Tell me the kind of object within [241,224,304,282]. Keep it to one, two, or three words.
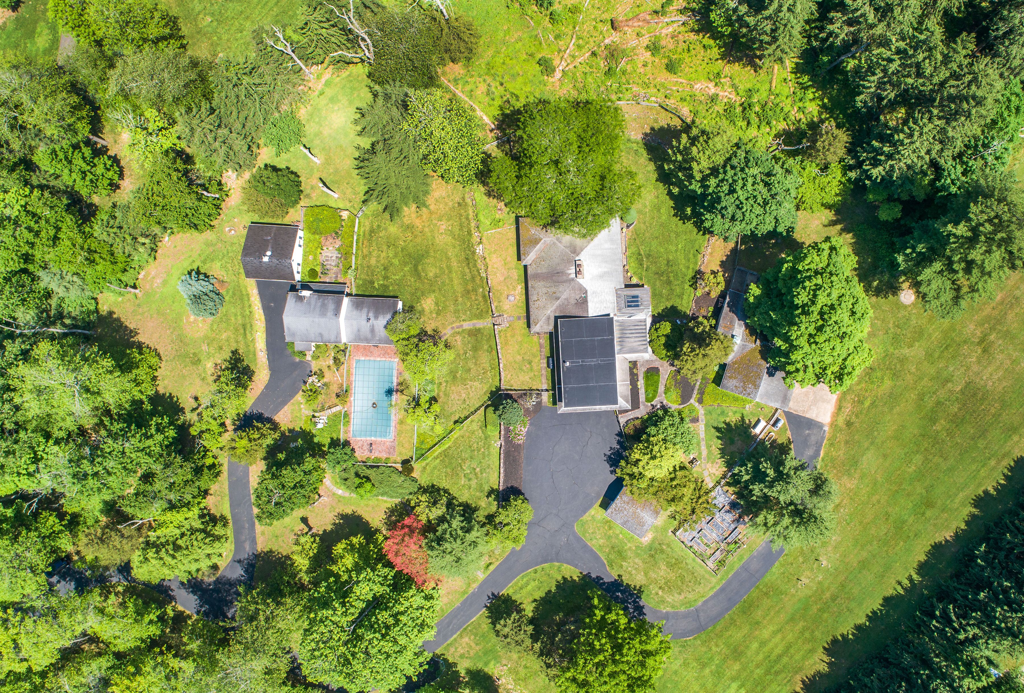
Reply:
building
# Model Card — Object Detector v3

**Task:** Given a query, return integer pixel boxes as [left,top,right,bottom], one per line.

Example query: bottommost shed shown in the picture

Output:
[605,482,666,539]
